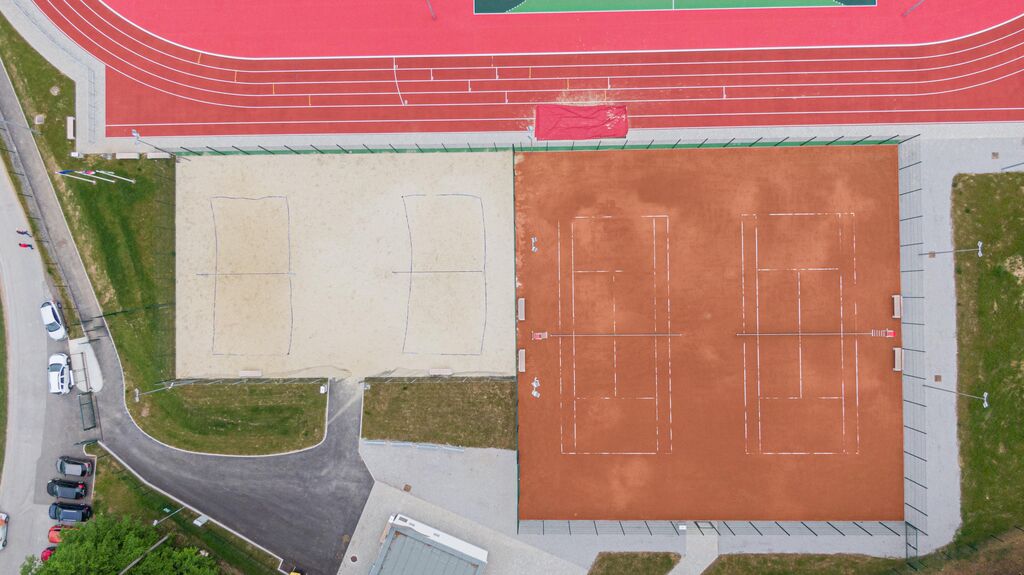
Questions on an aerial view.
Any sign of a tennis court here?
Yes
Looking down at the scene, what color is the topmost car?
white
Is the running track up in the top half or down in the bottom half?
top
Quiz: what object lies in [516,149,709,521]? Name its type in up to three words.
tennis court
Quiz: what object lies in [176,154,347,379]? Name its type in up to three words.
sports court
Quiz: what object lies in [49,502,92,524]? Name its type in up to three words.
car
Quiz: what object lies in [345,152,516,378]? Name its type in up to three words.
sports court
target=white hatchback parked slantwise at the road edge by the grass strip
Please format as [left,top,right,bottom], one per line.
[38,301,68,342]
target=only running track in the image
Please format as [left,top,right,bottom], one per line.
[32,0,1024,137]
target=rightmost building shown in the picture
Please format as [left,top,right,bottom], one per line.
[370,513,488,575]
